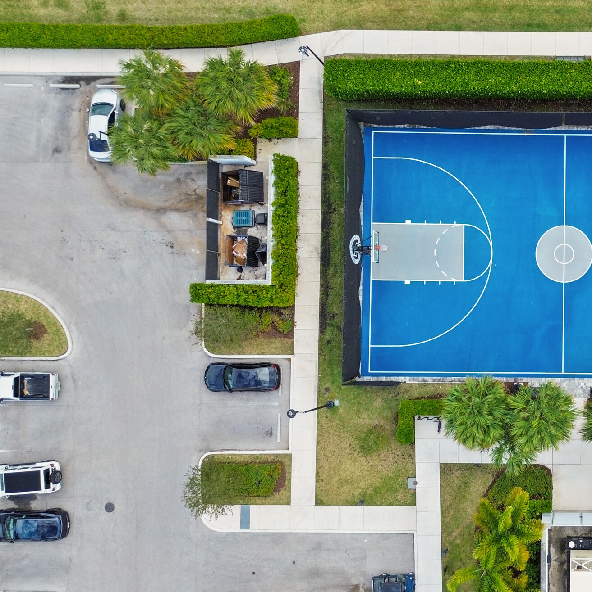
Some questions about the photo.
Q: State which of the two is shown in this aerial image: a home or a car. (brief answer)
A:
car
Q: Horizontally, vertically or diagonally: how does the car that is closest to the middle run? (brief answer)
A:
horizontally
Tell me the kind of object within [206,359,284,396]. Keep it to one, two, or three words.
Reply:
car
